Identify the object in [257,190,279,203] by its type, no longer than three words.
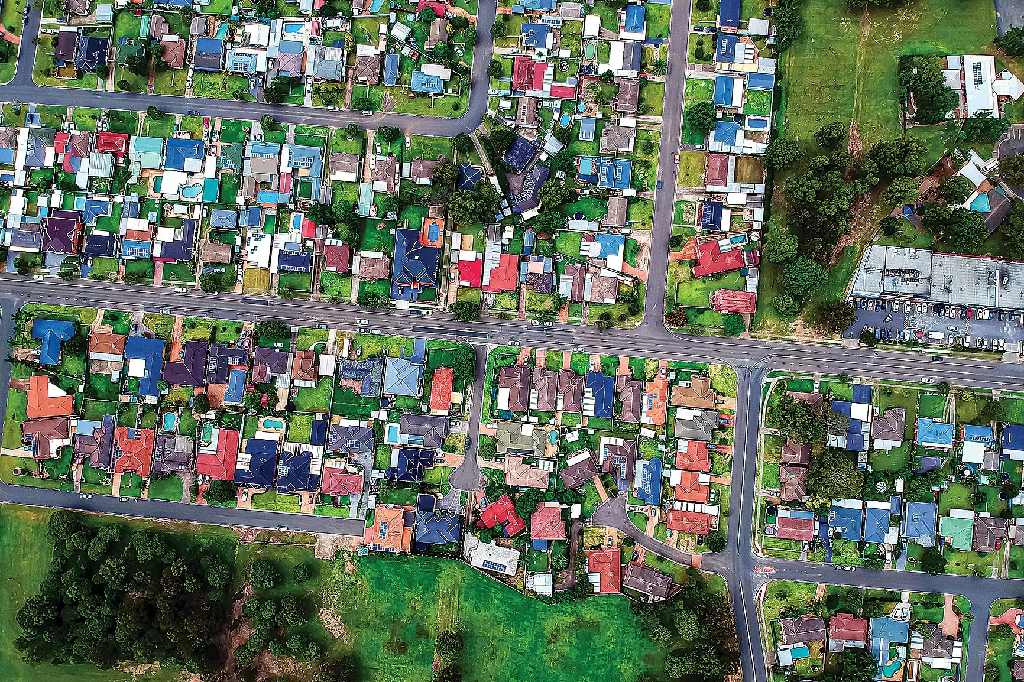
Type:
swimming pool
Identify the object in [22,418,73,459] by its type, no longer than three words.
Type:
house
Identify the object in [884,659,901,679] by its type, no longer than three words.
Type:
swimming pool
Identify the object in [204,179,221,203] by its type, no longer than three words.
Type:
building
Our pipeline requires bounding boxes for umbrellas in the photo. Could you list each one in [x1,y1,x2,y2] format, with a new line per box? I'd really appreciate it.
[877,481,886,492]
[750,231,760,242]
